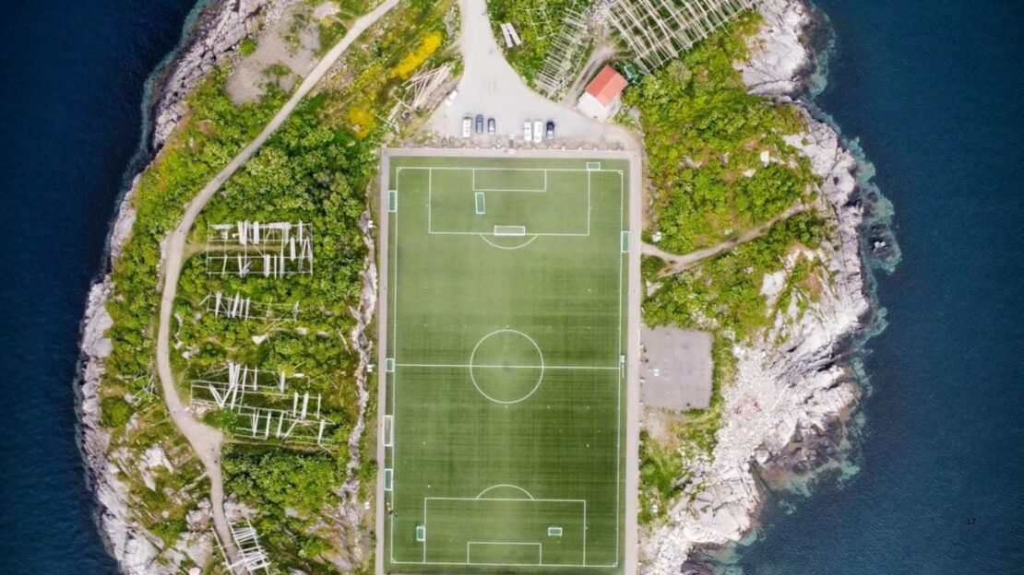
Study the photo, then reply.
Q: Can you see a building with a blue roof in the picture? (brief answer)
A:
No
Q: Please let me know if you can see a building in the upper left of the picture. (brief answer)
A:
No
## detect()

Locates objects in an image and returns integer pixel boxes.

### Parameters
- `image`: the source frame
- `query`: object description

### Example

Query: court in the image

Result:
[642,325,712,411]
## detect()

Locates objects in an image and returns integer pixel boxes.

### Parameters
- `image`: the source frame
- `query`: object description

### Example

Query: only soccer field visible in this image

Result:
[381,154,631,575]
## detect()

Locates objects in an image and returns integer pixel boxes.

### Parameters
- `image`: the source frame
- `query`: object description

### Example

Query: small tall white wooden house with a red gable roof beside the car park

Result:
[579,64,627,119]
